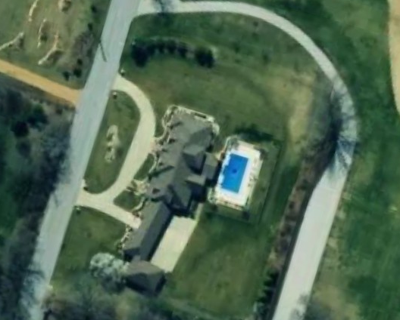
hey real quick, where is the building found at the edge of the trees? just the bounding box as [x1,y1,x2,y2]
[124,109,222,294]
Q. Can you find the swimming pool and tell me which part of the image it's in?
center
